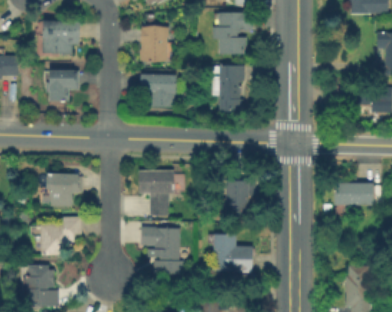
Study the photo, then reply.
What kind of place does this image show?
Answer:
residential area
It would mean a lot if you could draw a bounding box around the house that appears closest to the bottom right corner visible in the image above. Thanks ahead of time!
[345,267,370,312]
